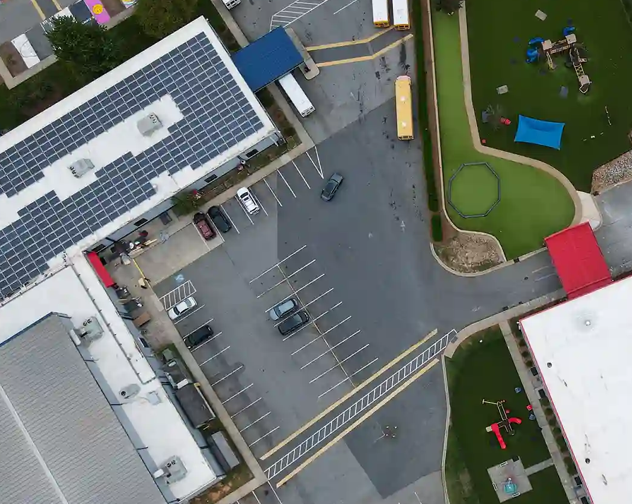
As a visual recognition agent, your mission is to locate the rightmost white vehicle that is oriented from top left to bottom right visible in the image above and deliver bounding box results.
[279,72,318,121]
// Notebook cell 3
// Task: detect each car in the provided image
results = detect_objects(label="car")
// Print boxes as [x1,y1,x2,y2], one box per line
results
[193,212,216,241]
[270,297,299,319]
[168,294,200,319]
[208,205,230,233]
[322,171,343,201]
[237,186,260,215]
[184,324,216,348]
[279,309,309,335]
